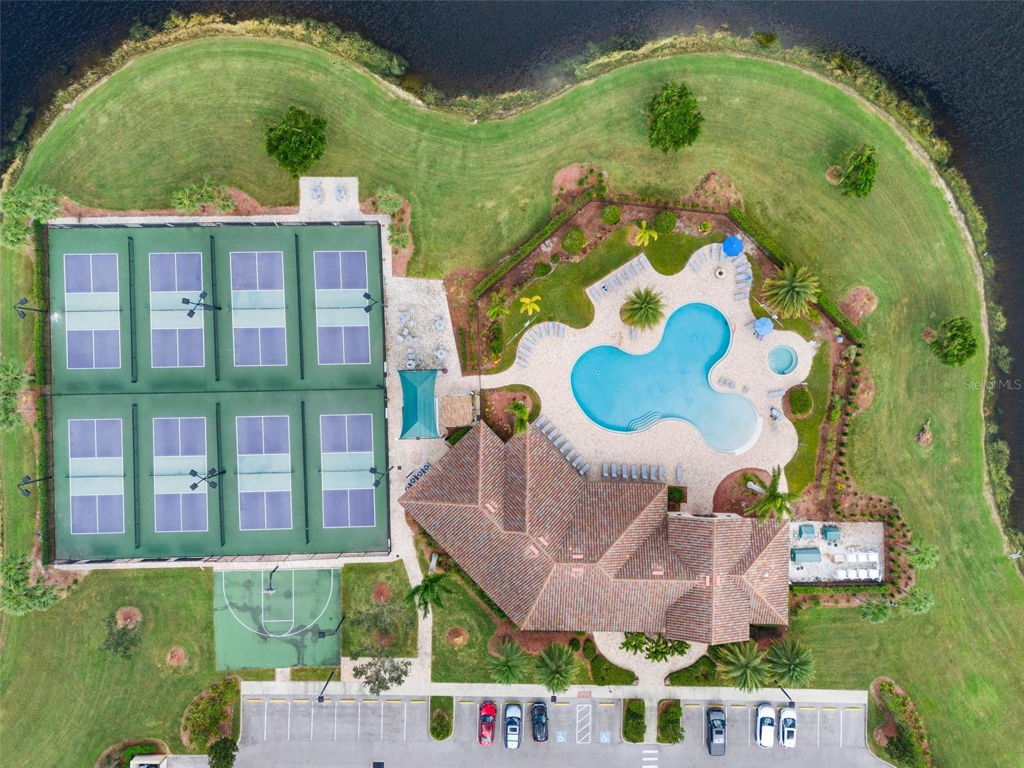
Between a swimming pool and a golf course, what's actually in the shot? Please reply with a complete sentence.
There is a swimming pool in the scene.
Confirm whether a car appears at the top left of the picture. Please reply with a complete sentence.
No, no car can be made out at the top left of the picture.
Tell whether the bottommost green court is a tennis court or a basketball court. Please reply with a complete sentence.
Looking closely, the bottommost green court is a basketball court.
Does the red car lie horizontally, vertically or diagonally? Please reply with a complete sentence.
In this picture, the red car lies vertically.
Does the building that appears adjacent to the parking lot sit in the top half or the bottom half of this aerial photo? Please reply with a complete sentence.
Seen from above, the building that appears adjacent to the parking lot lies in the bottom half of the view.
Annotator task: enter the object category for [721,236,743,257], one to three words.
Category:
umbrella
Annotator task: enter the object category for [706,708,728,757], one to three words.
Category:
truck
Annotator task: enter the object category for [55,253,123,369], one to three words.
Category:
sports court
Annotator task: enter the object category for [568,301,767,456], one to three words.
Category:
swimming pool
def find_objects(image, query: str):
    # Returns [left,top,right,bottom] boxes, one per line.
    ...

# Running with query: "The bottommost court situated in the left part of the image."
[213,567,341,670]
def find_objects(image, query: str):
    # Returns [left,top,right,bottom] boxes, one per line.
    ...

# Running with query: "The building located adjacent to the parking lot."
[398,420,790,645]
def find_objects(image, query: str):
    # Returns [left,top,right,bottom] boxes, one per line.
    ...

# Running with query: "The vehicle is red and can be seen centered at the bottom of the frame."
[478,701,498,747]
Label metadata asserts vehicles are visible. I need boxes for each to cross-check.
[478,701,498,747]
[706,708,728,757]
[503,703,524,750]
[755,704,778,748]
[778,708,800,749]
[530,702,550,743]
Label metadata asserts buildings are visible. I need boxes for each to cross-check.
[442,396,473,427]
[398,420,790,645]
